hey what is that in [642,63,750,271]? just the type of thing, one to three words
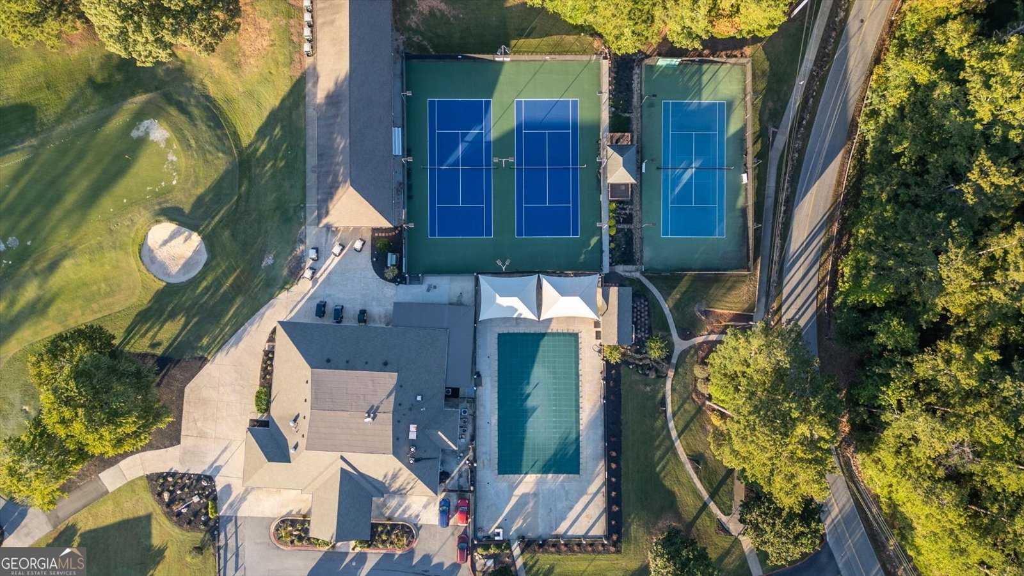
tennis court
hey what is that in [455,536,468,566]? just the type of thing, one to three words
vehicle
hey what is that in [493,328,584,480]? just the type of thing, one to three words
swimming pool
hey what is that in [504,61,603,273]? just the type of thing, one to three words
tennis court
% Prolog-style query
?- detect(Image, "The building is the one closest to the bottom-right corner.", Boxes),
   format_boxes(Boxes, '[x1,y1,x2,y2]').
[601,286,635,345]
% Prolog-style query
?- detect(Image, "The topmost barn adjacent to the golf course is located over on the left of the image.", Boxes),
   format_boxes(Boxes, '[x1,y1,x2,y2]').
[317,0,393,227]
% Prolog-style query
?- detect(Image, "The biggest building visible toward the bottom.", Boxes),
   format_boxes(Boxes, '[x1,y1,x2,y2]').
[242,321,460,543]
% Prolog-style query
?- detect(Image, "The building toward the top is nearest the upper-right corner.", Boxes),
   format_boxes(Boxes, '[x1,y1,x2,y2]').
[606,144,636,183]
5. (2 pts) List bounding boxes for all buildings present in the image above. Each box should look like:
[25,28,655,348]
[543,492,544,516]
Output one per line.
[601,286,635,345]
[242,321,460,543]
[317,0,393,227]
[606,144,636,183]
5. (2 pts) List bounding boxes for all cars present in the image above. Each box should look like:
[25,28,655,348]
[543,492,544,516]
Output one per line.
[437,499,450,530]
[456,499,469,528]
[455,536,468,566]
